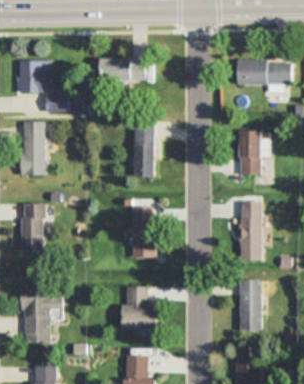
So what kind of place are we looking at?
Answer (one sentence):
What you see here is a residential area.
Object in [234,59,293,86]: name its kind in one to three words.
house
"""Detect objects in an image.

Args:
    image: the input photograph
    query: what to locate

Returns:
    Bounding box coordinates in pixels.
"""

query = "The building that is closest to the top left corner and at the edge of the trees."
[18,60,73,114]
